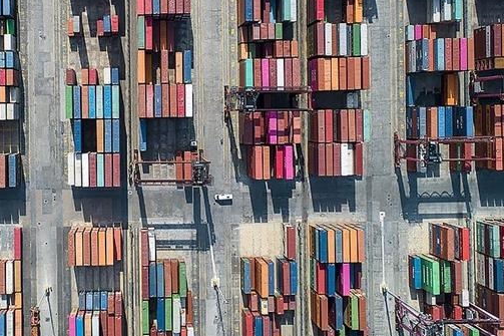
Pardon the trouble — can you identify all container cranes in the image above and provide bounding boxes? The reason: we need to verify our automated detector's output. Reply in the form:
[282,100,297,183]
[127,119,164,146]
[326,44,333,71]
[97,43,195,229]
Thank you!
[474,75,504,103]
[395,134,500,164]
[133,153,213,187]
[397,300,503,336]
[224,84,312,117]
